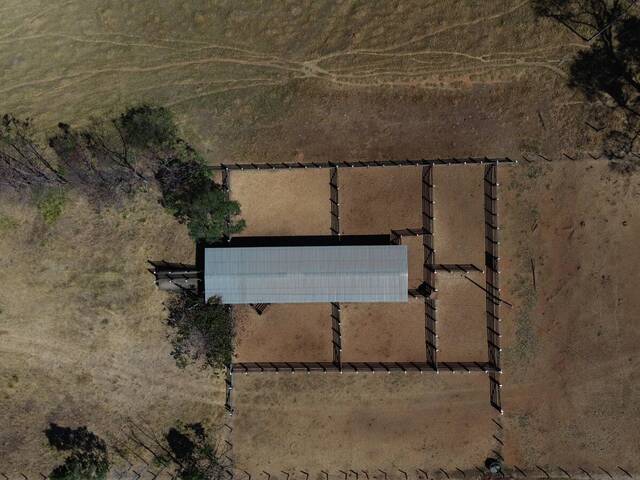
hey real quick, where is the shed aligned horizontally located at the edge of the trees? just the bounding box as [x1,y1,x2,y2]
[202,245,410,304]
